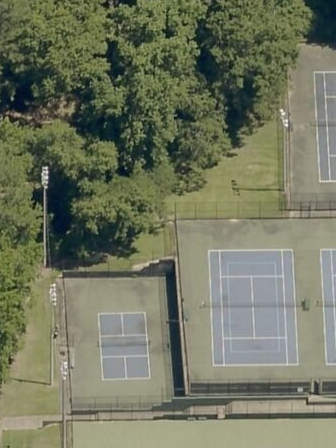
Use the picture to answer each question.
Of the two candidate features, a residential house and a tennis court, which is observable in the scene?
tennis court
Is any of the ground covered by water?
No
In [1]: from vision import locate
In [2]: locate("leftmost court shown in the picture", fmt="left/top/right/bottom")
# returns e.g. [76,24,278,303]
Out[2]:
[100,313,148,379]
